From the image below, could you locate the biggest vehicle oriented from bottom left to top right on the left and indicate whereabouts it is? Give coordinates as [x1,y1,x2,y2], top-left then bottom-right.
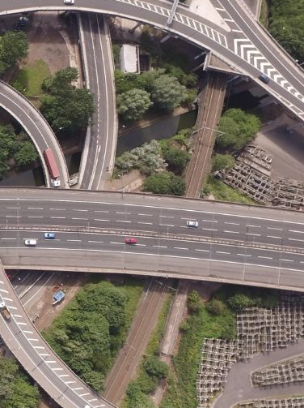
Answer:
[49,289,65,307]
